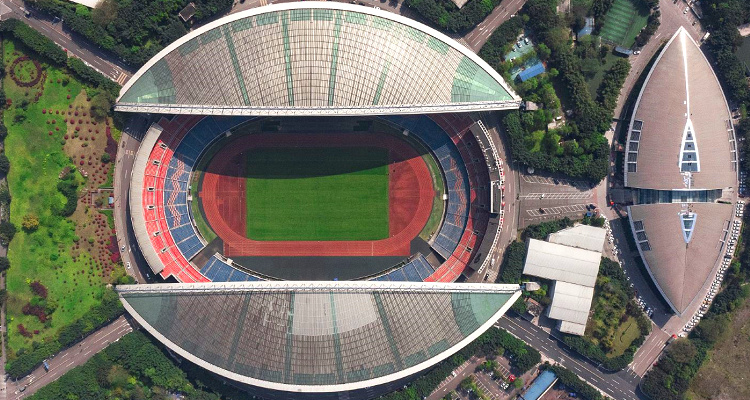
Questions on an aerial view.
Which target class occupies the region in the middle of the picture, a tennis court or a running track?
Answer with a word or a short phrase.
running track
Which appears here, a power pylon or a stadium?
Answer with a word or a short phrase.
stadium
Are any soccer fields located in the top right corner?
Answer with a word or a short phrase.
Yes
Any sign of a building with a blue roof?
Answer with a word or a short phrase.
Yes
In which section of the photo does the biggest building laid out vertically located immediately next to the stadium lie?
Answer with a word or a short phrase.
right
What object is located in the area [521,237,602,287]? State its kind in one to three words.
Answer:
shed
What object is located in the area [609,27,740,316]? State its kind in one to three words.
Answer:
building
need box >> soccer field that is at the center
[247,148,388,241]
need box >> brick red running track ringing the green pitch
[199,132,436,257]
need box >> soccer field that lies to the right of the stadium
[601,0,653,49]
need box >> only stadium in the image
[104,1,540,392]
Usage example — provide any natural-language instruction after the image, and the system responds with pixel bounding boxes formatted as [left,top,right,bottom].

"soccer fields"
[247,148,388,241]
[601,0,653,49]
